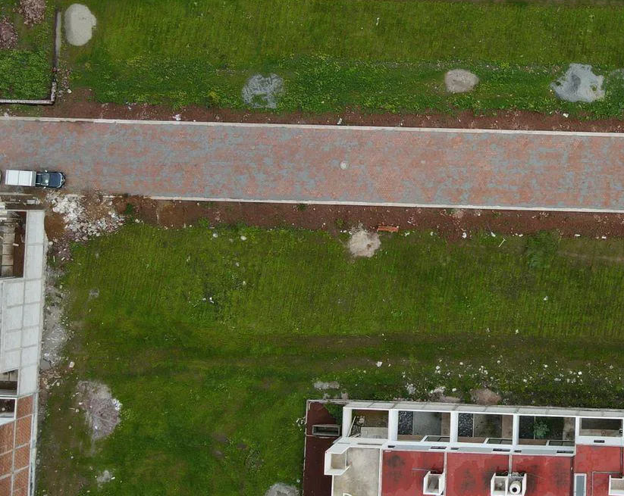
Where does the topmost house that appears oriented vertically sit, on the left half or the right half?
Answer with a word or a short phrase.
left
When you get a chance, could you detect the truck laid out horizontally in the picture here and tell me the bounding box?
[5,168,67,191]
